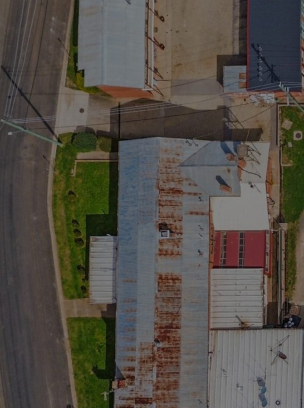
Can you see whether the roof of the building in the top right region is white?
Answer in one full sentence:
No, the roof of the building in the top right region is black.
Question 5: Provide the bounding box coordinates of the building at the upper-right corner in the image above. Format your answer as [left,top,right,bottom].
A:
[224,0,304,99]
